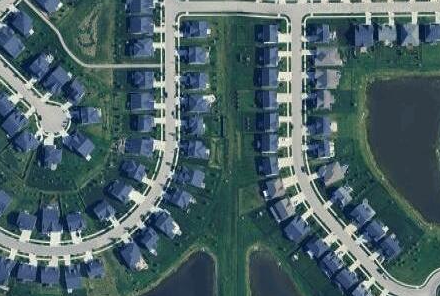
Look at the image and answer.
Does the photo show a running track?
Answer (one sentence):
No, there appears to be no running track in this shot.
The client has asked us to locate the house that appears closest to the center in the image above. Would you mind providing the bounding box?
[189,140,214,158]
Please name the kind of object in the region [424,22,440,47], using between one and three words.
house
